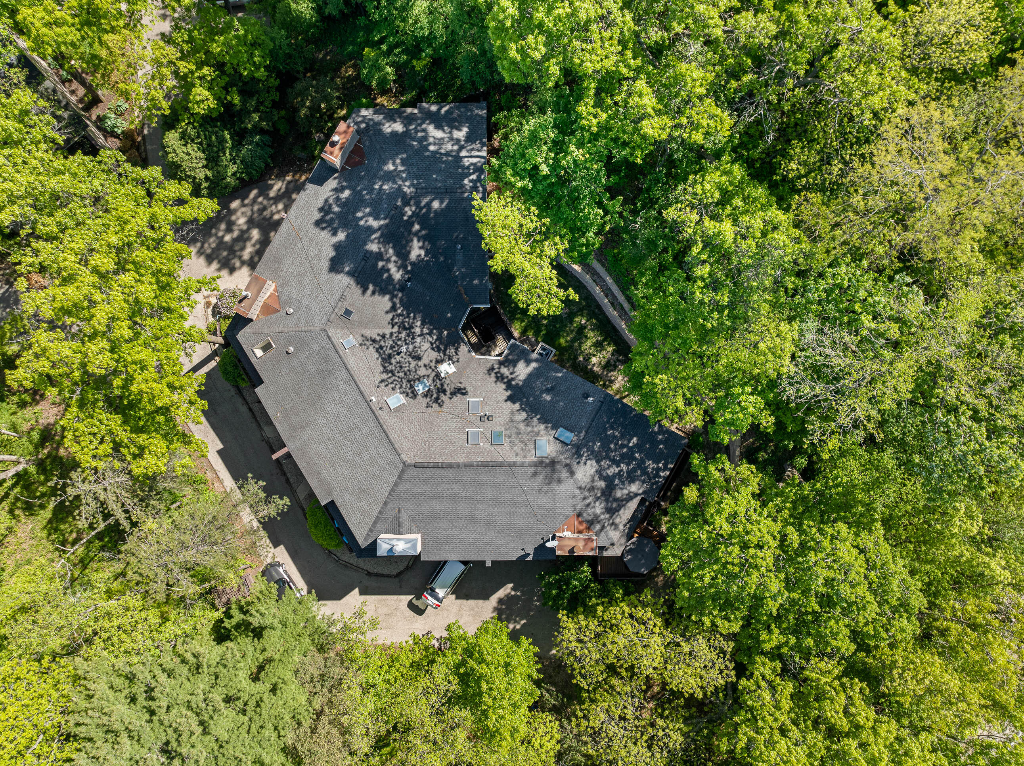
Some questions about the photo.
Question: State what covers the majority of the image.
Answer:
trees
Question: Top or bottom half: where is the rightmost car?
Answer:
bottom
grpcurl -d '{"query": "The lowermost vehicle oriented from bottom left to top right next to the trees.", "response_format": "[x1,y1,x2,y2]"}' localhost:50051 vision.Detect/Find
[421,561,472,610]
